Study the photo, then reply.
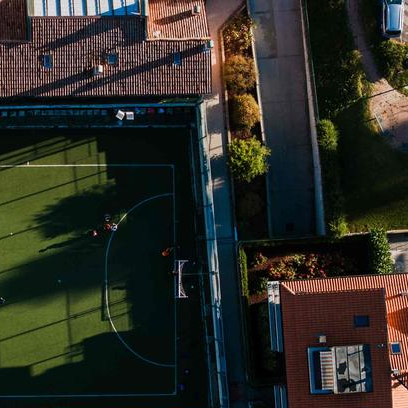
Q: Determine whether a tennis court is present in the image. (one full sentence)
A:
No, no tennis court is visible in the scene.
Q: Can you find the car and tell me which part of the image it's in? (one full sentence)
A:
The car is located in the top right region of the scene.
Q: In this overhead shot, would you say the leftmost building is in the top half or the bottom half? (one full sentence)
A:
The top half of the photo is where the leftmost building is.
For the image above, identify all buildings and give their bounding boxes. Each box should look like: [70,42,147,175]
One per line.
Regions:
[266,274,408,408]
[0,0,217,100]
